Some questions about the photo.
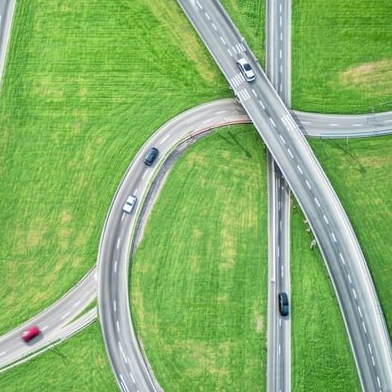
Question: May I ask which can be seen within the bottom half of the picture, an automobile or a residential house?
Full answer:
Visible within the bottom half of the picture is an automobile.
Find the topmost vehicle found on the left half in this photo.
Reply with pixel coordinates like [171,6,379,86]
[142,145,160,167]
